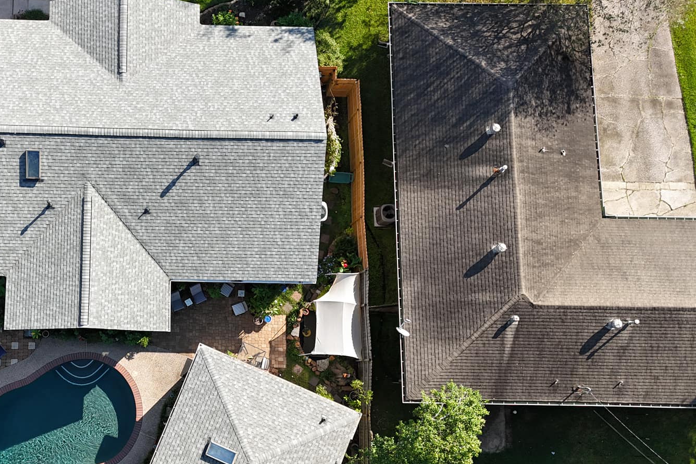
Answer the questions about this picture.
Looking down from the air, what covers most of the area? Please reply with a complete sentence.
For the most part, this view shows buildings.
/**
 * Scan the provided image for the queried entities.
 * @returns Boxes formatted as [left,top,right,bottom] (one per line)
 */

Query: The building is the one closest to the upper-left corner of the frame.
[0,0,325,332]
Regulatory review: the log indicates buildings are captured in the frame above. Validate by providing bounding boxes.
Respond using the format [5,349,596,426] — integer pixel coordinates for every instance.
[0,0,325,332]
[147,342,363,464]
[369,0,696,407]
